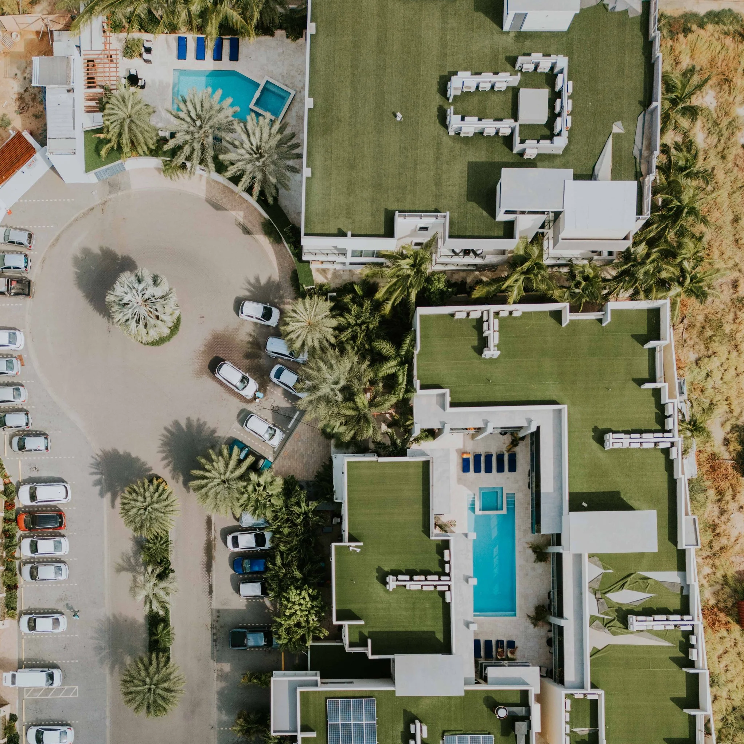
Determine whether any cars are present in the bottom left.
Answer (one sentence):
Yes, looking in the bottom left, one can make out a car.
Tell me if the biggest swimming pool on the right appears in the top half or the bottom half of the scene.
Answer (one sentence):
You can find the biggest swimming pool on the right in the bottom half.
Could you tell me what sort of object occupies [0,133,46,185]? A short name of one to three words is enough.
shed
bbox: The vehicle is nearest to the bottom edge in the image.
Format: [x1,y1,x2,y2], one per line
[27,725,74,744]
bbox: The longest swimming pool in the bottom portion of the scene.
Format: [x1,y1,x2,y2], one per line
[468,494,516,617]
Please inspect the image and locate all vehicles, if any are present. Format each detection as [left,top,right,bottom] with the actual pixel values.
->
[228,432,273,472]
[233,555,272,577]
[227,529,273,552]
[0,408,32,431]
[0,224,36,250]
[19,481,70,505]
[18,509,65,533]
[267,362,309,399]
[241,411,286,450]
[211,357,260,401]
[237,299,281,328]
[0,328,24,349]
[237,579,276,599]
[21,535,69,558]
[0,357,20,377]
[27,725,74,744]
[12,432,51,453]
[0,275,36,300]
[4,667,63,689]
[21,560,69,584]
[20,612,66,635]
[0,386,28,406]
[0,250,31,275]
